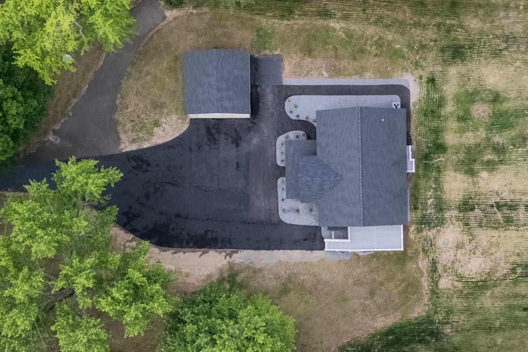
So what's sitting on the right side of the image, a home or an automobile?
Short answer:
home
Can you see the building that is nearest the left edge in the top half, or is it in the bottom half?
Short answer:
top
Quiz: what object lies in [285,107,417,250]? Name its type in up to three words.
house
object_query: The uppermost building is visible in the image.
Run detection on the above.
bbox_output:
[185,48,251,117]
